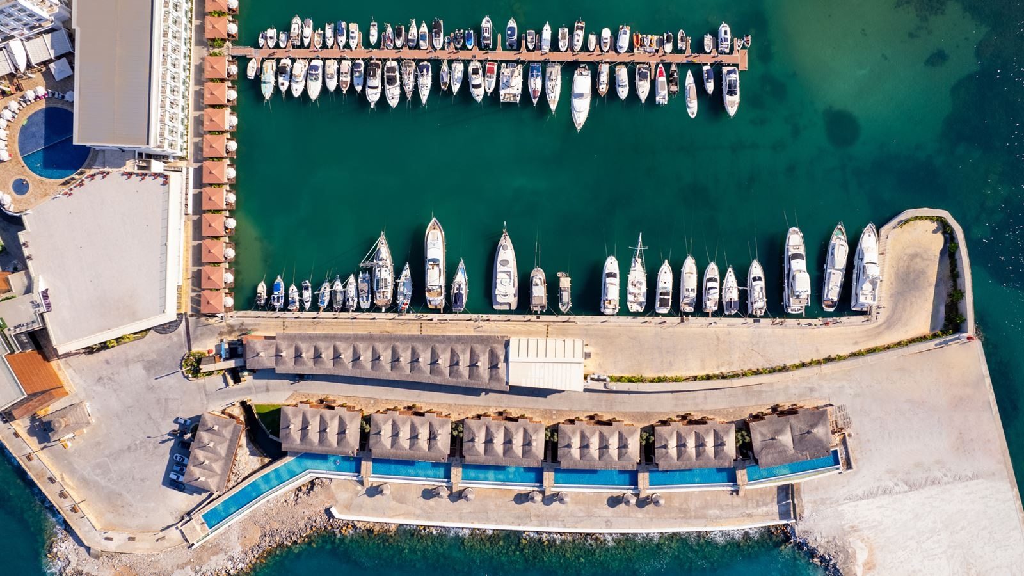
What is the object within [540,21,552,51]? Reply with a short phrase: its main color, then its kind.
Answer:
white boat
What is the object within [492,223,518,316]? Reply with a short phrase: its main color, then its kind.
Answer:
white boat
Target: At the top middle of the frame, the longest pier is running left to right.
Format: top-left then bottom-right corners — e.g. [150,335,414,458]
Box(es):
[253,32,747,80]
